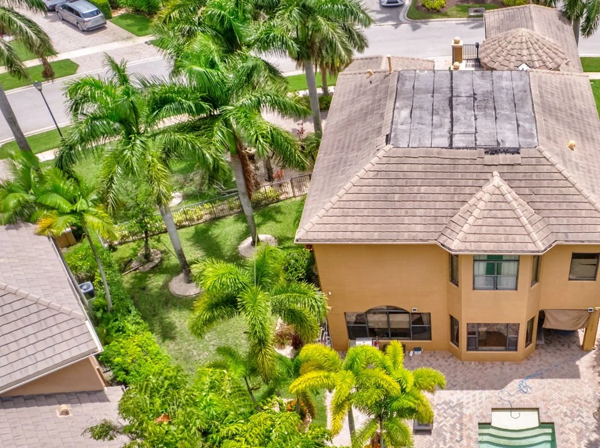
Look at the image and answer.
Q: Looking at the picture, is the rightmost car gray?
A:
Yes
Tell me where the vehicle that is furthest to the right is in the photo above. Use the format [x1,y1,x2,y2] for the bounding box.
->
[53,0,103,27]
